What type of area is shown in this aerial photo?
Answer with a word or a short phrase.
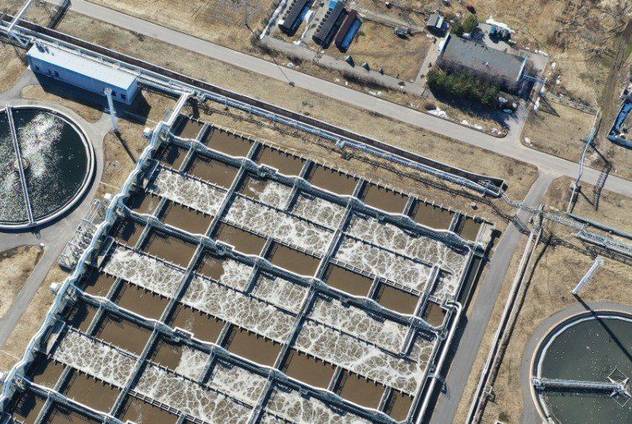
industrial area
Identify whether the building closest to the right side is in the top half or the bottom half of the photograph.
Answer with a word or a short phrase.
top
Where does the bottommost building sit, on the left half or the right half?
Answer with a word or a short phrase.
left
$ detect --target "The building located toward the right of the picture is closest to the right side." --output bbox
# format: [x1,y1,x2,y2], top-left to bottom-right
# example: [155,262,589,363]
[437,36,550,93]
